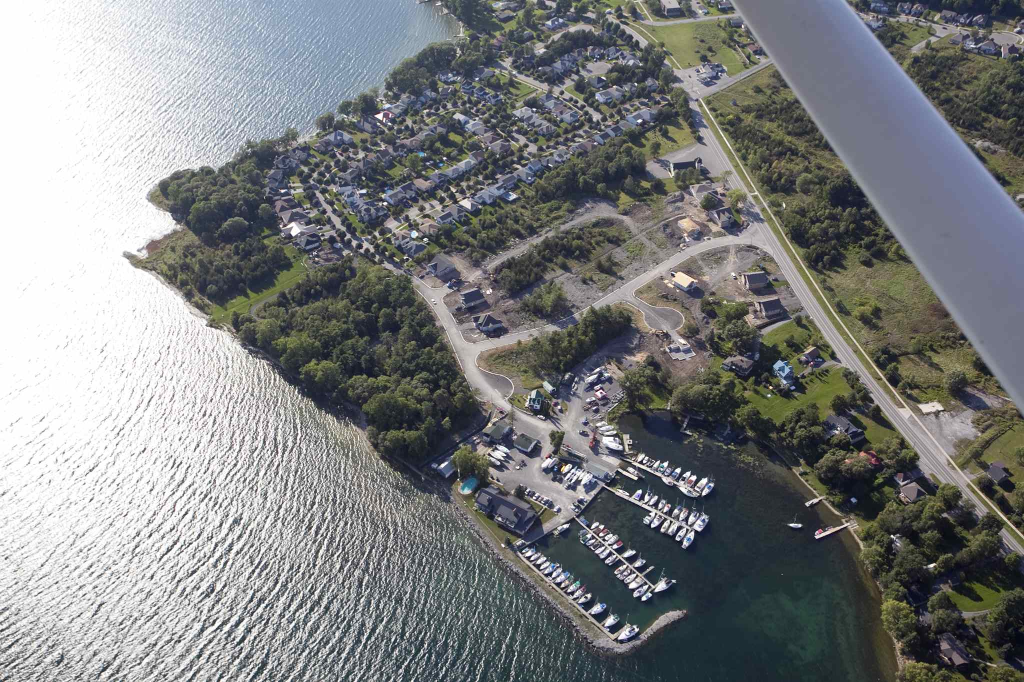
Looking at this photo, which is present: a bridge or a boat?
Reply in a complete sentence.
Visible in the photo is a boat.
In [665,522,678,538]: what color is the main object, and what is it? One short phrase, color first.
white boat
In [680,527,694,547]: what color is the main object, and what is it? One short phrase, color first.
white boat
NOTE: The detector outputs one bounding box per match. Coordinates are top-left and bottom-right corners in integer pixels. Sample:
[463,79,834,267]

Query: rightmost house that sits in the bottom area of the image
[981,462,1012,489]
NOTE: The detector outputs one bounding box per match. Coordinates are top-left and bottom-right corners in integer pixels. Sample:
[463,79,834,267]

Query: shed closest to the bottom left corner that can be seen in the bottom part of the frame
[430,458,463,485]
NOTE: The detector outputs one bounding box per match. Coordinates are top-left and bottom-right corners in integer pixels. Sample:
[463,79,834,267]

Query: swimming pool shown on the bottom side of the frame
[455,476,482,497]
